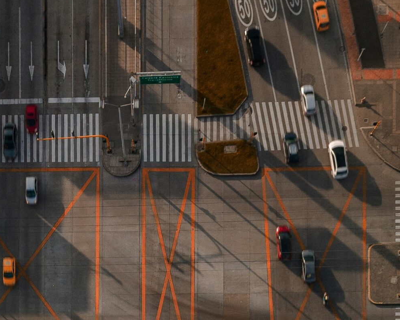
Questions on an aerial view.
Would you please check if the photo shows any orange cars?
Yes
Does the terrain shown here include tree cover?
No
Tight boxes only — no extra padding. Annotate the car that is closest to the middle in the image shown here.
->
[281,132,300,166]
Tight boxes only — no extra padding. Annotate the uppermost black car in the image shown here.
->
[244,26,265,69]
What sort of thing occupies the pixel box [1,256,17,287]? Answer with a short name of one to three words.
car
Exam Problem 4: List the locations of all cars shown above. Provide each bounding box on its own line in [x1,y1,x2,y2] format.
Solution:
[274,225,292,260]
[327,140,349,181]
[299,250,316,285]
[1,122,18,162]
[298,85,316,118]
[23,177,39,206]
[281,132,300,166]
[244,26,265,69]
[23,104,39,135]
[310,1,329,34]
[1,256,17,287]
